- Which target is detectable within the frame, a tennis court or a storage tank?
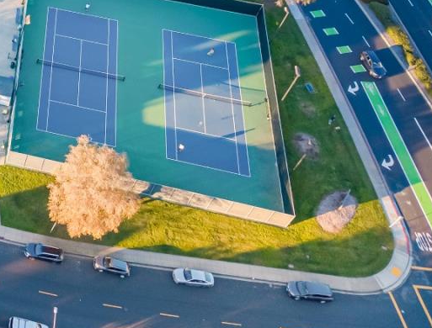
tennis court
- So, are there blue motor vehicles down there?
Yes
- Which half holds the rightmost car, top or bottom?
top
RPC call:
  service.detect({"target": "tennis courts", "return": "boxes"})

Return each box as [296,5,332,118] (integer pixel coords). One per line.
[37,6,125,140]
[159,28,252,176]
[7,0,286,227]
